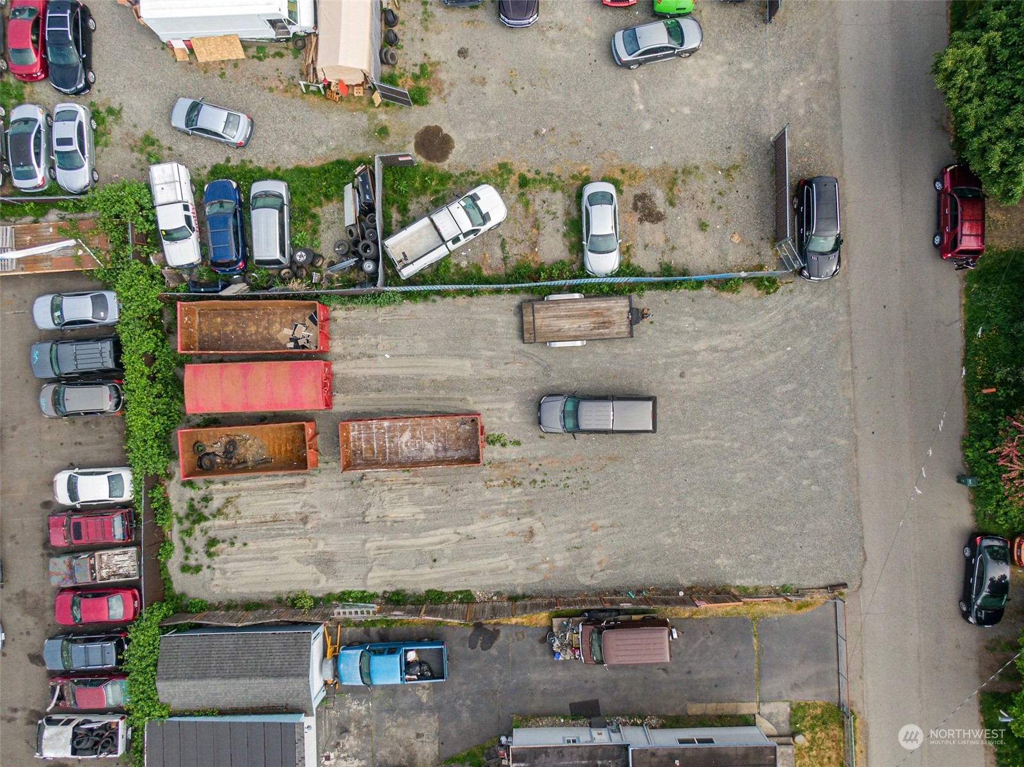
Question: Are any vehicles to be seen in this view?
Yes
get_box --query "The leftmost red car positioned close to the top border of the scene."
[1,0,51,82]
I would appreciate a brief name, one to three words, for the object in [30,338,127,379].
car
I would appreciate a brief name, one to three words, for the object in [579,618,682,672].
van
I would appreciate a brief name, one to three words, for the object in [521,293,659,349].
trailer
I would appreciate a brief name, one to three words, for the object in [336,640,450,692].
truck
